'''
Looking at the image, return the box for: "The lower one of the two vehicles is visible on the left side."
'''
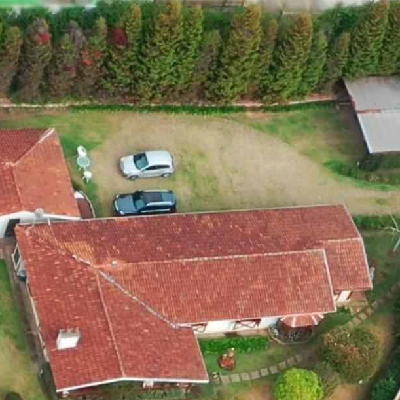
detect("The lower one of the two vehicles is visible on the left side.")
[111,185,181,217]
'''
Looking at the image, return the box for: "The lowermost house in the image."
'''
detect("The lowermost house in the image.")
[17,204,376,400]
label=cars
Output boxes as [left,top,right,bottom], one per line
[116,149,179,184]
[111,185,181,217]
